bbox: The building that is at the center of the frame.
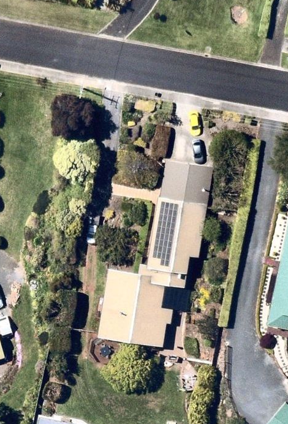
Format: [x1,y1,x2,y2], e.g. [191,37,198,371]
[98,160,212,347]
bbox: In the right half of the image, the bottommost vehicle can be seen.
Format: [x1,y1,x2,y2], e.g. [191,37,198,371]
[192,138,205,164]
